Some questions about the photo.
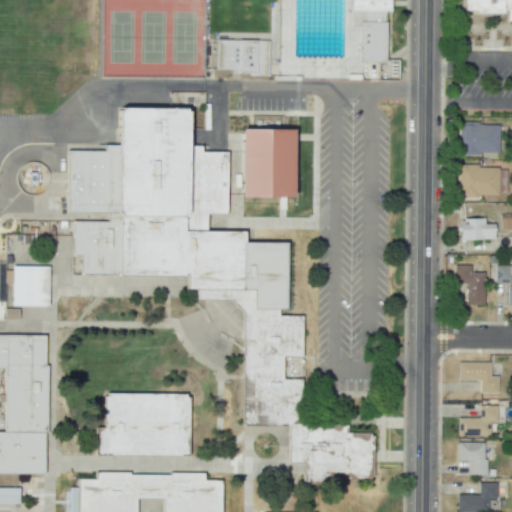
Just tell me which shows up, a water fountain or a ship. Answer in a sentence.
Of the two, only a water fountain appears.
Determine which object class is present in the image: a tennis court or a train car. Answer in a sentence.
Of the two, only a tennis court appears.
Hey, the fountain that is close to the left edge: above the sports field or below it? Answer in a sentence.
The fountain that is close to the left edge is below the sports field.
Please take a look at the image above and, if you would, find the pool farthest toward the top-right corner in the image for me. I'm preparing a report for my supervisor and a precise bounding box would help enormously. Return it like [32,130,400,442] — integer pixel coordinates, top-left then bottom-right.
[296,0,346,60]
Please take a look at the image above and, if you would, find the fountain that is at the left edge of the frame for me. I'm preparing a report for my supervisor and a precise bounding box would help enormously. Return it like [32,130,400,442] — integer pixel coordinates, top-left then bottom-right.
[18,162,51,194]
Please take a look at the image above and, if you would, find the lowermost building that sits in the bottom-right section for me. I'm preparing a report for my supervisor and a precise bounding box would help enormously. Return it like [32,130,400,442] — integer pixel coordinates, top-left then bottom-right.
[460,482,500,512]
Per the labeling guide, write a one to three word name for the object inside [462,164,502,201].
house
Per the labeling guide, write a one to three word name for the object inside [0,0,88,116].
sports field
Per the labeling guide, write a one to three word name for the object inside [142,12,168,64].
tennis court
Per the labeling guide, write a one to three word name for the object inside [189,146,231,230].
building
